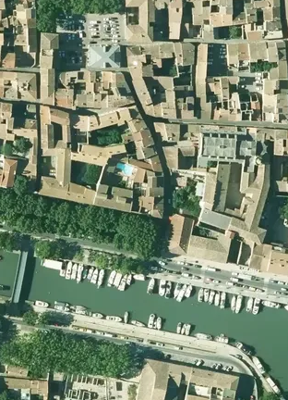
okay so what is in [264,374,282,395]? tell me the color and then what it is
white boat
